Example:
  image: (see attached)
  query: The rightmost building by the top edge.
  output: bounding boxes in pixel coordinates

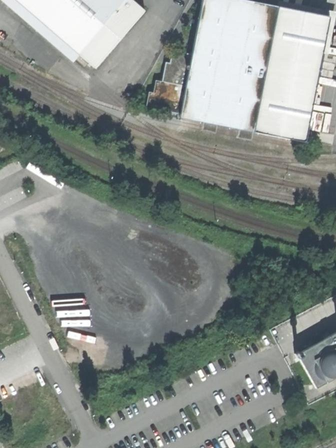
[256,4,330,139]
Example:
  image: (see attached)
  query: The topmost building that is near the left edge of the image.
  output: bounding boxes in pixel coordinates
[2,0,103,60]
